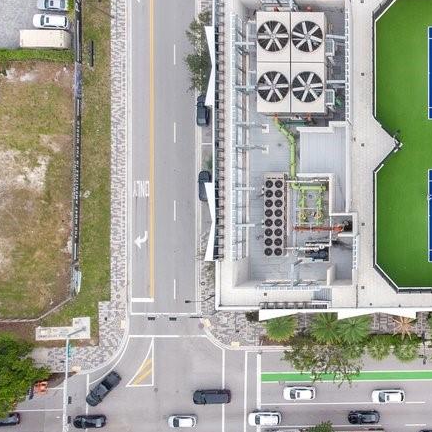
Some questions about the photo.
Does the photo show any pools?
No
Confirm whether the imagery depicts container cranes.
No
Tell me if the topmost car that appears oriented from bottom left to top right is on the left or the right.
left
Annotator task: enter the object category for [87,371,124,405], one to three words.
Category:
car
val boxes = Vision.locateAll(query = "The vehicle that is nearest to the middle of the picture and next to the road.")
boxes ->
[196,171,212,202]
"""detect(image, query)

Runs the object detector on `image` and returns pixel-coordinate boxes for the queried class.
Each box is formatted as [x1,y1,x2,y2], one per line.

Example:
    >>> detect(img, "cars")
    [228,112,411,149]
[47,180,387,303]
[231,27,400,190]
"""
[194,96,211,127]
[33,13,70,29]
[372,387,405,404]
[196,171,212,202]
[37,0,68,11]
[74,413,108,429]
[87,371,124,405]
[0,412,22,428]
[248,410,283,427]
[169,413,198,429]
[193,387,232,405]
[283,384,317,401]
[347,408,380,425]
